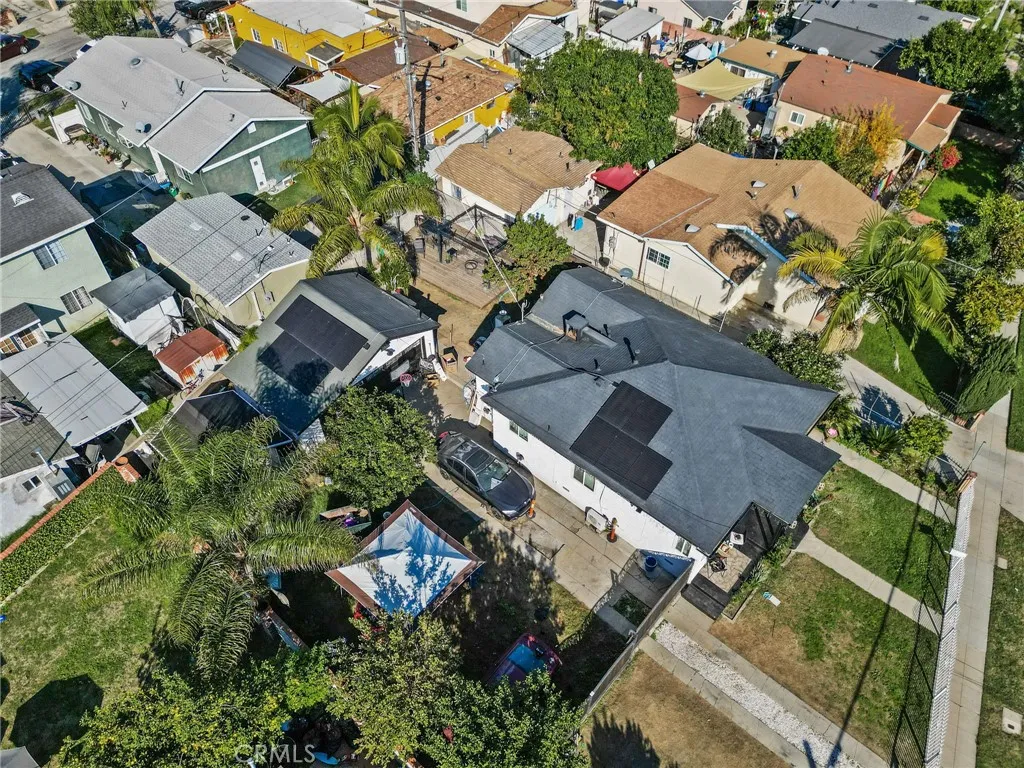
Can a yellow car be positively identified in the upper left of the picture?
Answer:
No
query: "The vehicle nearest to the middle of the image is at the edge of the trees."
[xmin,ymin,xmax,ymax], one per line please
[432,431,539,522]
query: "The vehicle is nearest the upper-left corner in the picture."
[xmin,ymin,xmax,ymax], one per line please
[0,30,36,56]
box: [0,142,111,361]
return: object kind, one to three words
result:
house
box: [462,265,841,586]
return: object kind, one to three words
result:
house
